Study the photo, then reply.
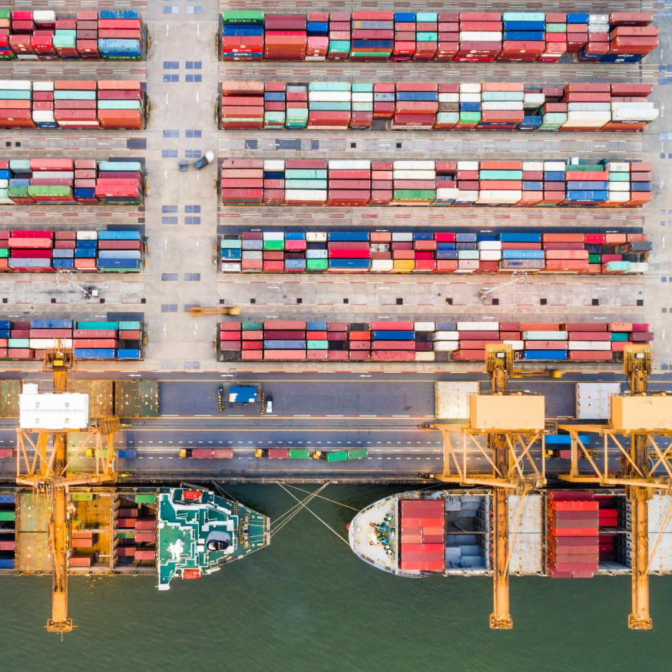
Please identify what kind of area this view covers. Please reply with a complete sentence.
It's a port.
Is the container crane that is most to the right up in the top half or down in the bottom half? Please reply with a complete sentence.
The container crane that is most to the right sits in the bottom half of the picture.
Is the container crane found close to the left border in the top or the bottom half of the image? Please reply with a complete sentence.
The container crane found close to the left border sits in the bottom half of the picture.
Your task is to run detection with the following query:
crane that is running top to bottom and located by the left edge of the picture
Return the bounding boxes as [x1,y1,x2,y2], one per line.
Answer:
[16,337,132,643]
